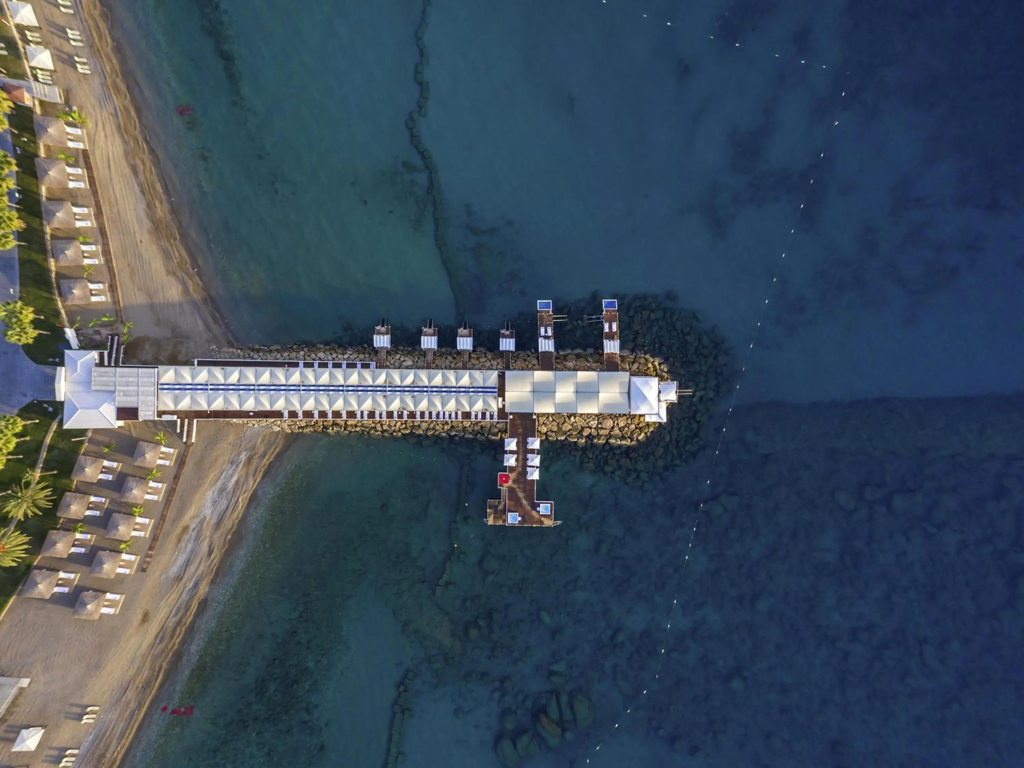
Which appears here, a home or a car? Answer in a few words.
home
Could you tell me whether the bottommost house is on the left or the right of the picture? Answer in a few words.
left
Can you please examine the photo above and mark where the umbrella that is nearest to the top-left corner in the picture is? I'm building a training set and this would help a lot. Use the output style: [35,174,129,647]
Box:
[7,1,38,26]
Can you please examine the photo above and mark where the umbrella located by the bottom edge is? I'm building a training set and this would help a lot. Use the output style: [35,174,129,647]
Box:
[11,729,44,751]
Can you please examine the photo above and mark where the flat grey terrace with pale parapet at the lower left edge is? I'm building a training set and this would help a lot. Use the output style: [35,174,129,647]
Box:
[0,675,35,721]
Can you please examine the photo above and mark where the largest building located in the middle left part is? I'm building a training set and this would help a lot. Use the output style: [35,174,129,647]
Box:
[55,350,129,429]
